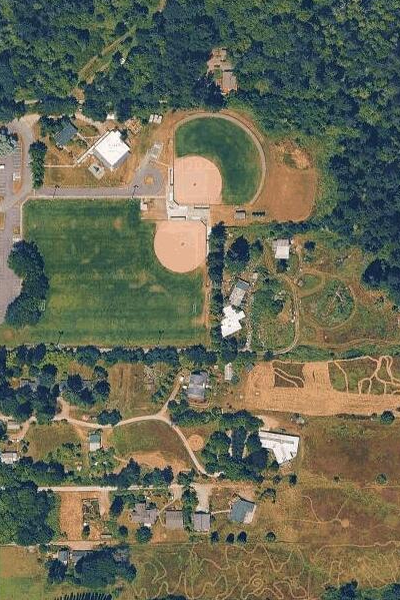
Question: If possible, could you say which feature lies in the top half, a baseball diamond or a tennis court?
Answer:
baseball diamond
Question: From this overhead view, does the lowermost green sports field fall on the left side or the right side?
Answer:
left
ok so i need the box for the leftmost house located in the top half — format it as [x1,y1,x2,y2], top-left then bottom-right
[53,120,80,149]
